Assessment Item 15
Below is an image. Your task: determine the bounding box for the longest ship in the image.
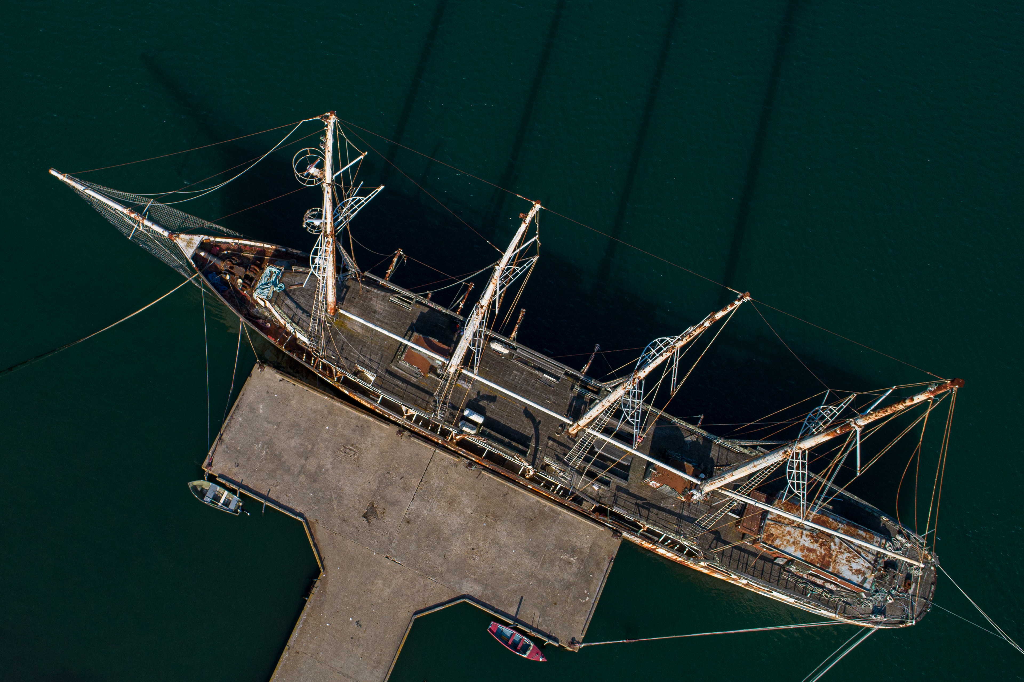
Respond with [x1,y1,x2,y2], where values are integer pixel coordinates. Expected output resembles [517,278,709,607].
[52,108,966,633]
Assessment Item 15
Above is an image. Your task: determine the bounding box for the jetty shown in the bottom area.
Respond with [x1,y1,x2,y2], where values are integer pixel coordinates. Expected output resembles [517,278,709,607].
[202,366,621,682]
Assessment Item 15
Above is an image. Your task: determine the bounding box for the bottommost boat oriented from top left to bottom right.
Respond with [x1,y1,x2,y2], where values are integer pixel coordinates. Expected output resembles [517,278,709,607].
[487,622,547,662]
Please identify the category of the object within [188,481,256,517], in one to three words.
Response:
boat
